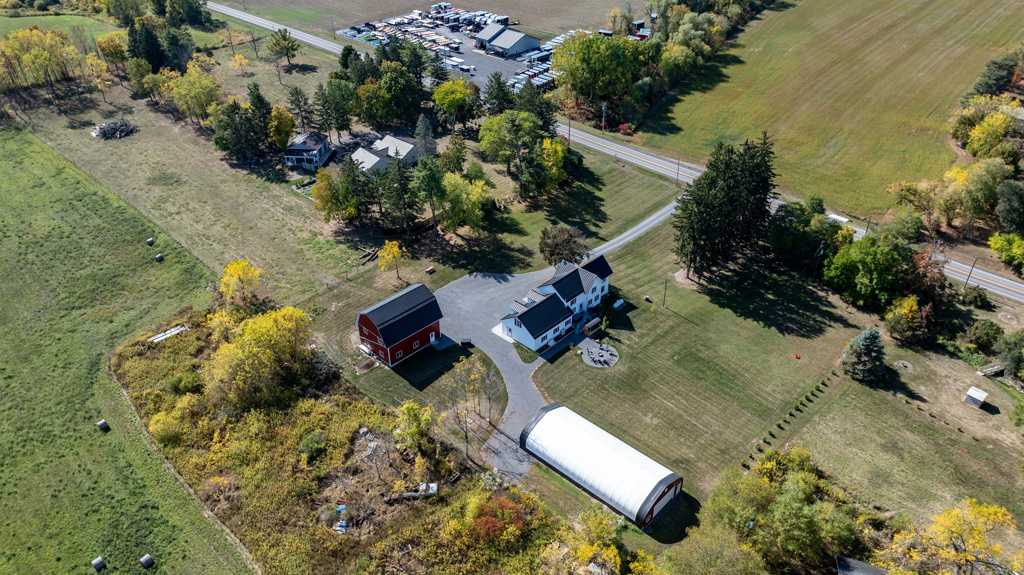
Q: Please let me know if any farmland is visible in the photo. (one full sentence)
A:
Yes, some farmland is visible.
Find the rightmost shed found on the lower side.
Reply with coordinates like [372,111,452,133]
[965,386,992,408]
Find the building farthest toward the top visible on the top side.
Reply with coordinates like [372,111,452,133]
[475,23,539,59]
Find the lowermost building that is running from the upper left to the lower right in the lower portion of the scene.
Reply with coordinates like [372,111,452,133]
[520,401,681,529]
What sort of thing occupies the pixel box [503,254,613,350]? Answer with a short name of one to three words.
house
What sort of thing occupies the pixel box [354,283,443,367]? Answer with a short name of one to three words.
barn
